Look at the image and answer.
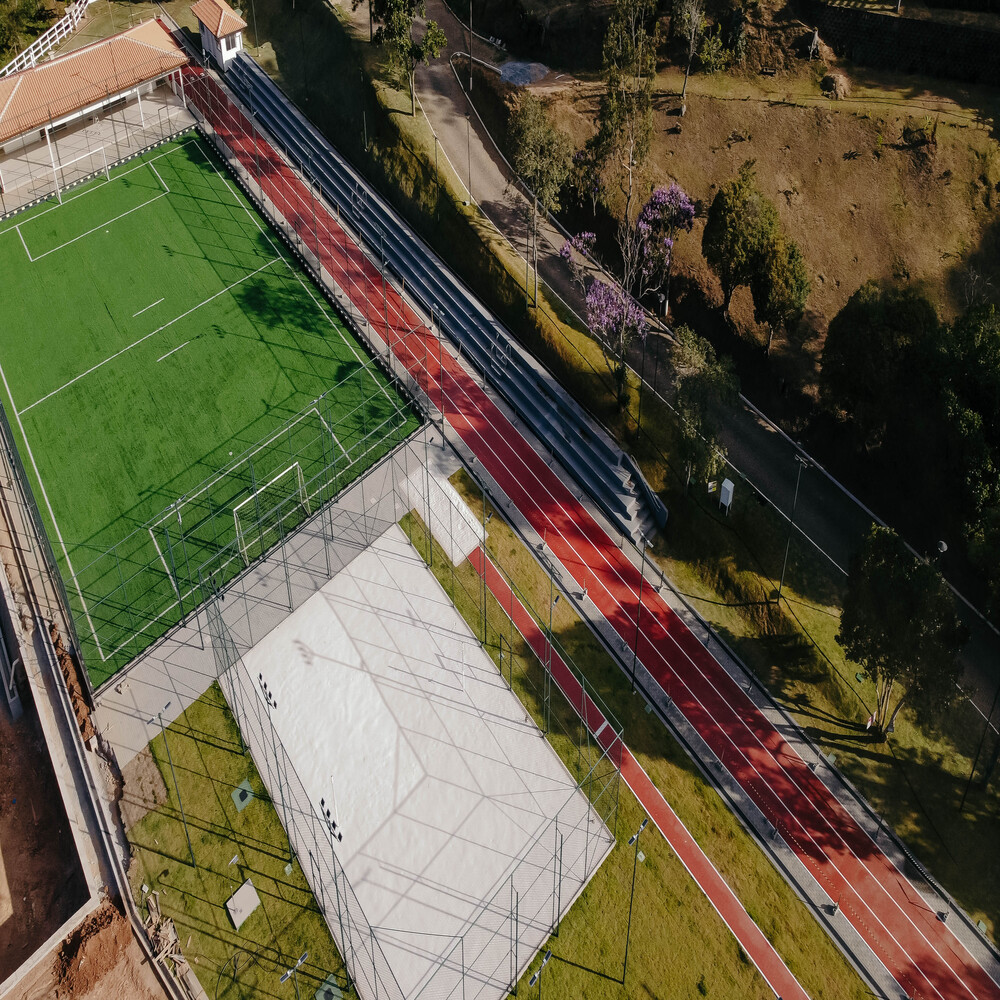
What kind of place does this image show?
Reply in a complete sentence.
This image shows a sports ground.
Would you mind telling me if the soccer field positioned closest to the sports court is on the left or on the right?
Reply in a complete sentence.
The soccer field positioned closest to the sports court appears in the left half of the scene.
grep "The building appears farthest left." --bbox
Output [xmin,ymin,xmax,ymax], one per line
[0,18,190,191]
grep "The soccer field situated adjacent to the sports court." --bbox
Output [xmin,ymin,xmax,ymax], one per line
[0,129,421,688]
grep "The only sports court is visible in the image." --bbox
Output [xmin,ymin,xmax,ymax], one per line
[216,518,619,1000]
